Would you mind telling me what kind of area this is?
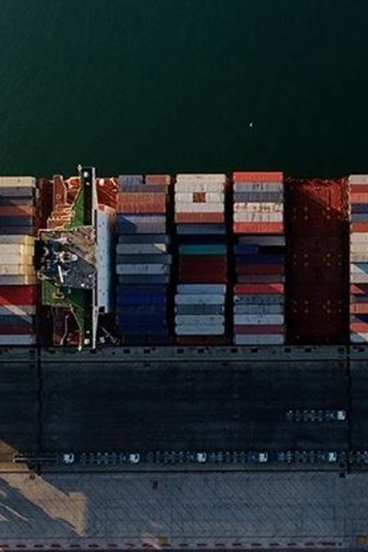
port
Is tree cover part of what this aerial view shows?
No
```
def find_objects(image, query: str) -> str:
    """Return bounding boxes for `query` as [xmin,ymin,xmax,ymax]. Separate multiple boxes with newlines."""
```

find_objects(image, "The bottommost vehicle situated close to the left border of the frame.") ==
[13,454,75,466]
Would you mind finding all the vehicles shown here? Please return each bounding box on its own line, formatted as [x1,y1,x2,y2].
[13,454,75,466]
[209,453,269,465]
[147,454,207,467]
[288,411,347,422]
[79,454,139,466]
[278,453,337,465]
